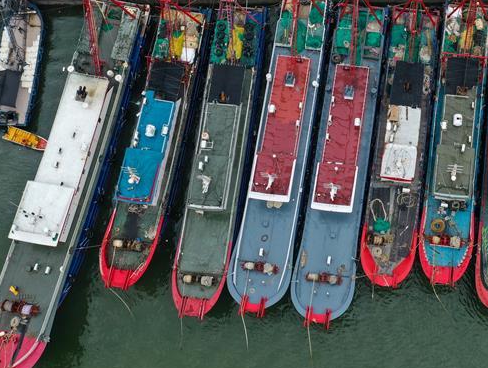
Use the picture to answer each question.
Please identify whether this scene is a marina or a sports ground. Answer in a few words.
marina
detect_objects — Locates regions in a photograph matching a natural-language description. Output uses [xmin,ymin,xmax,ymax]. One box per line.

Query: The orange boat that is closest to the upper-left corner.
[1,128,44,149]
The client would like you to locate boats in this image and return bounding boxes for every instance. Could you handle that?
[1,128,44,149]
[0,0,47,126]
[102,0,208,294]
[363,0,439,293]
[293,0,387,328]
[173,0,266,324]
[0,0,155,368]
[420,0,488,291]
[229,0,330,320]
